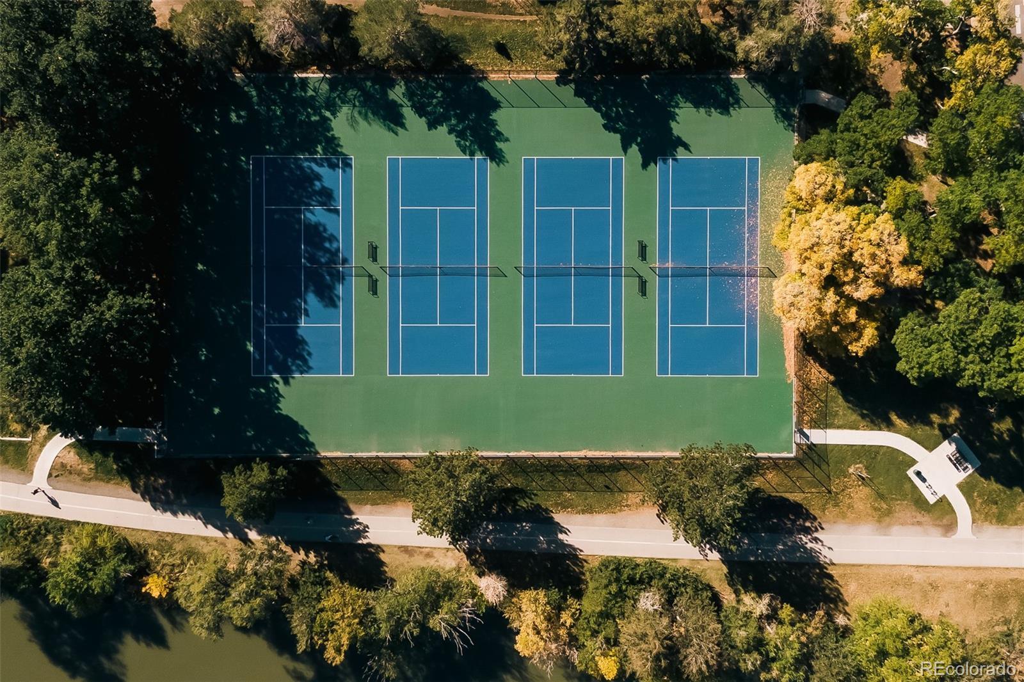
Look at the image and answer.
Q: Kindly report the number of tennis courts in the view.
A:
four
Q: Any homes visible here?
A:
No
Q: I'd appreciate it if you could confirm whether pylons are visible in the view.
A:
No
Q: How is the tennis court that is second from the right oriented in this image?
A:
from top to bottom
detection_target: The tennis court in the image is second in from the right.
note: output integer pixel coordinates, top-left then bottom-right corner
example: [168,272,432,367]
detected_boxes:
[523,157,623,376]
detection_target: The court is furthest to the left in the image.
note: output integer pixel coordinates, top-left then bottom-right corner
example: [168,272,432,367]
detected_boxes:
[251,156,353,376]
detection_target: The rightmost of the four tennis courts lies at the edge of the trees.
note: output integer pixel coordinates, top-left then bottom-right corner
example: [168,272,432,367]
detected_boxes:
[658,157,759,376]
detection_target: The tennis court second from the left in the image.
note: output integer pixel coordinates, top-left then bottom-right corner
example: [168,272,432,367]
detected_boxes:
[388,157,489,376]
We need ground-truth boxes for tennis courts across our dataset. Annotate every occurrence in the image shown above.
[658,157,759,376]
[251,156,353,376]
[523,157,623,376]
[388,157,489,376]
